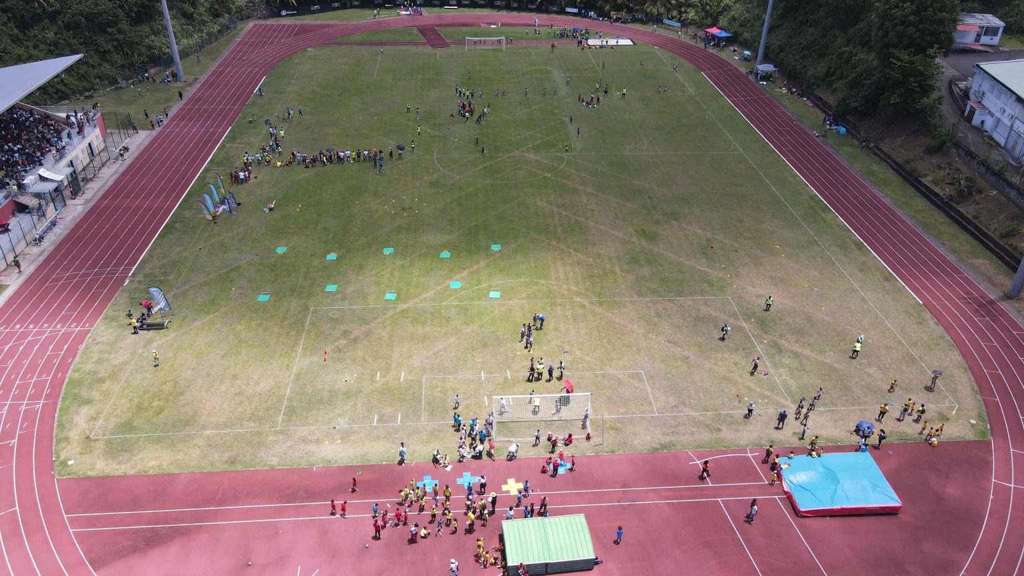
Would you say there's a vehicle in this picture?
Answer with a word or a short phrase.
No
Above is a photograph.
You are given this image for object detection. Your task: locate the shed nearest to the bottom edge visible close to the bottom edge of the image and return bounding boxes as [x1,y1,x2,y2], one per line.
[501,512,597,576]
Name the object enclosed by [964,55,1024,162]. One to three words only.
building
